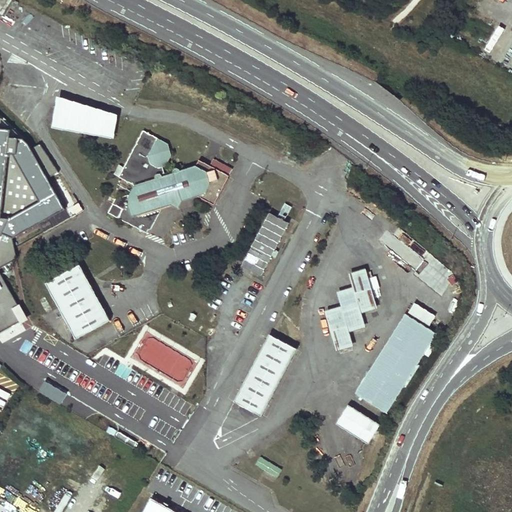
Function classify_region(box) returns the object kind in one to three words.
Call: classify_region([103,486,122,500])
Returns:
vehicle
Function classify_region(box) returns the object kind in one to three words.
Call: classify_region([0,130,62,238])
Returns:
building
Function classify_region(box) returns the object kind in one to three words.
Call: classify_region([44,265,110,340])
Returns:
shed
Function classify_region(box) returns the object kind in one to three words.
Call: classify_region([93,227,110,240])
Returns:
vehicle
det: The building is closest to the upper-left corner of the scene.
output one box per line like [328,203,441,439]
[52,96,117,140]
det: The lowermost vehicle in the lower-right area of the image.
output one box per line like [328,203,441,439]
[397,478,410,500]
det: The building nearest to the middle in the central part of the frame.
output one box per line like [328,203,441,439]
[243,213,289,278]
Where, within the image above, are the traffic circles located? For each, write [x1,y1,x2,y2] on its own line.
[470,172,512,313]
